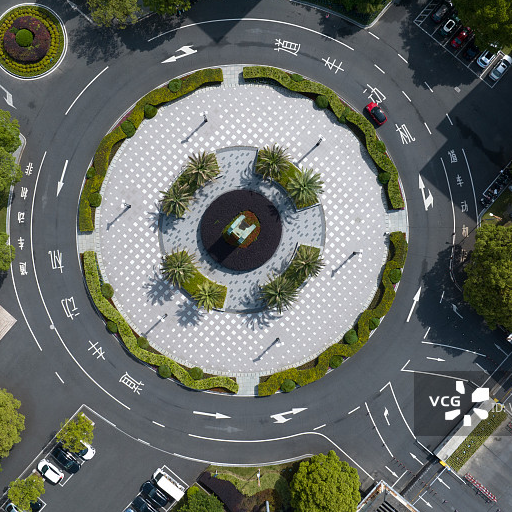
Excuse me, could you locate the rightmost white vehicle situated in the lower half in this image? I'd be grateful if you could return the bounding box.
[149,469,188,509]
